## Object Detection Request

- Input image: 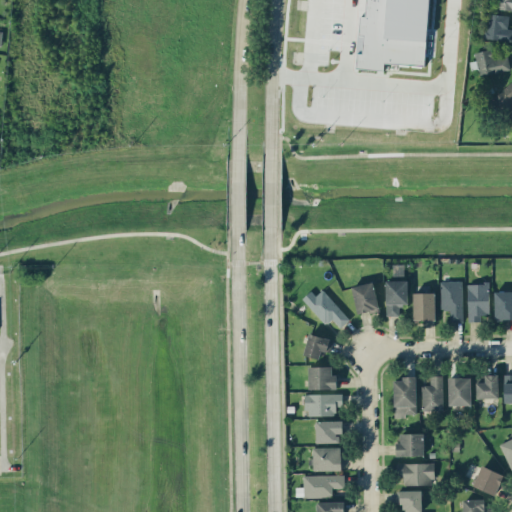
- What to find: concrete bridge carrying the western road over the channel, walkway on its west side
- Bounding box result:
[228,154,247,232]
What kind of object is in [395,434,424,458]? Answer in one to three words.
house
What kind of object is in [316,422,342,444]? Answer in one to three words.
house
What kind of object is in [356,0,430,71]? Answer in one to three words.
building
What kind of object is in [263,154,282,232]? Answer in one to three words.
bridge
